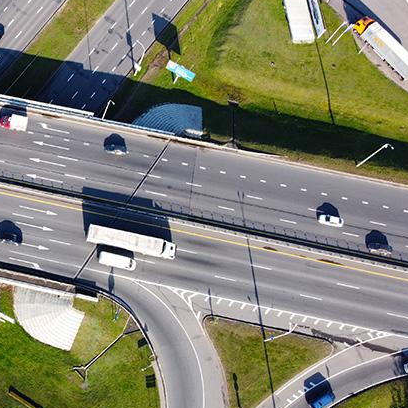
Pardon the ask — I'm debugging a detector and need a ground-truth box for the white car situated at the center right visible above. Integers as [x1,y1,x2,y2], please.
[317,214,343,227]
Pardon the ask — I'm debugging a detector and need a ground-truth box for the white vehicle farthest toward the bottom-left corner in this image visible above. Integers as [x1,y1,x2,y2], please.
[98,251,135,270]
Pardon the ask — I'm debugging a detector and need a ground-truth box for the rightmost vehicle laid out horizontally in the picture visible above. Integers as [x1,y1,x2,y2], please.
[367,238,392,252]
